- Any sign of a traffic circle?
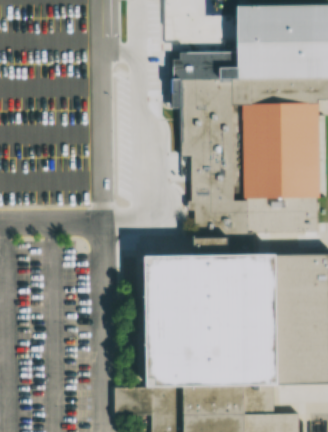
No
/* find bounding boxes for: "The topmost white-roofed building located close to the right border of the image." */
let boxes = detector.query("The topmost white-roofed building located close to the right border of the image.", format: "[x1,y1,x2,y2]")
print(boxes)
[237,4,328,78]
